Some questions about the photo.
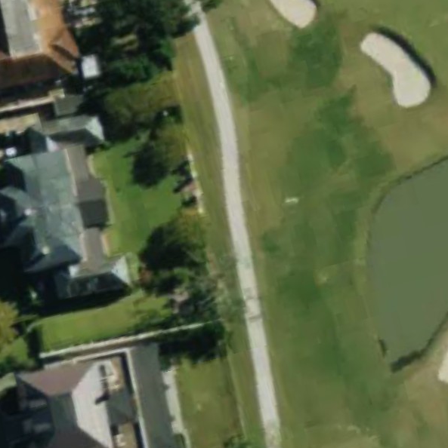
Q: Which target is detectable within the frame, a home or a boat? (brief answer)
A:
home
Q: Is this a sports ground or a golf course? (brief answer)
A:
golf course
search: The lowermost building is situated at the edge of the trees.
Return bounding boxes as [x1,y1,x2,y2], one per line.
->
[15,342,176,448]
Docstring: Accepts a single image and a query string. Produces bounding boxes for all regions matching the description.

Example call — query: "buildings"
[15,342,176,448]
[0,0,79,92]
[54,93,84,116]
[0,116,132,299]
